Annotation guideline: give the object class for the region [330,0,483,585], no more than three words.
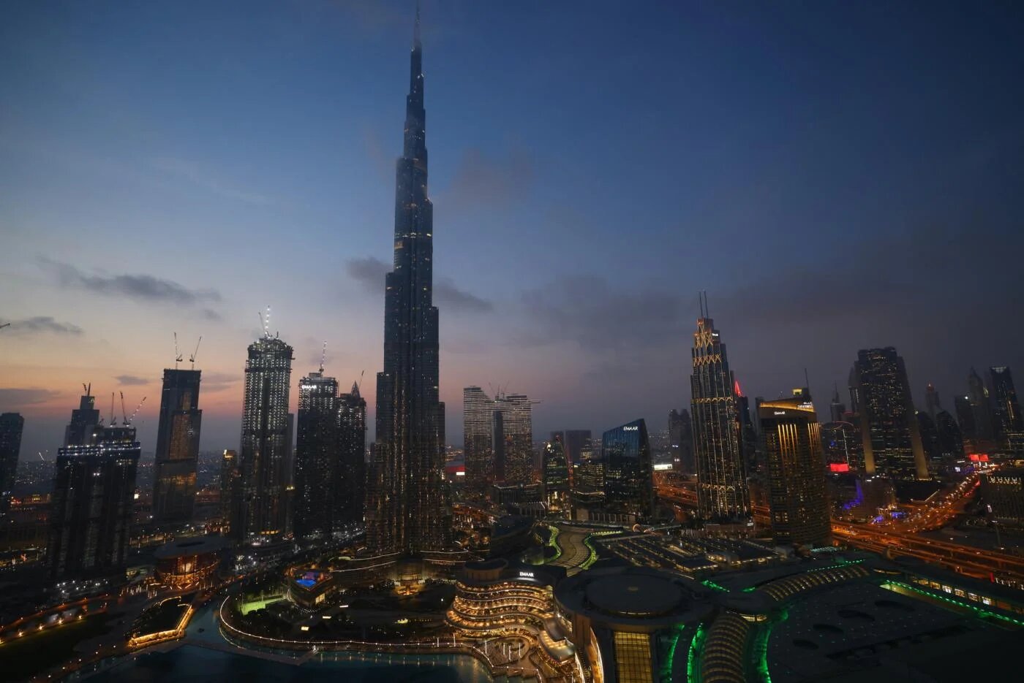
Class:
building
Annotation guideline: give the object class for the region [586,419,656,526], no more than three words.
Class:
building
